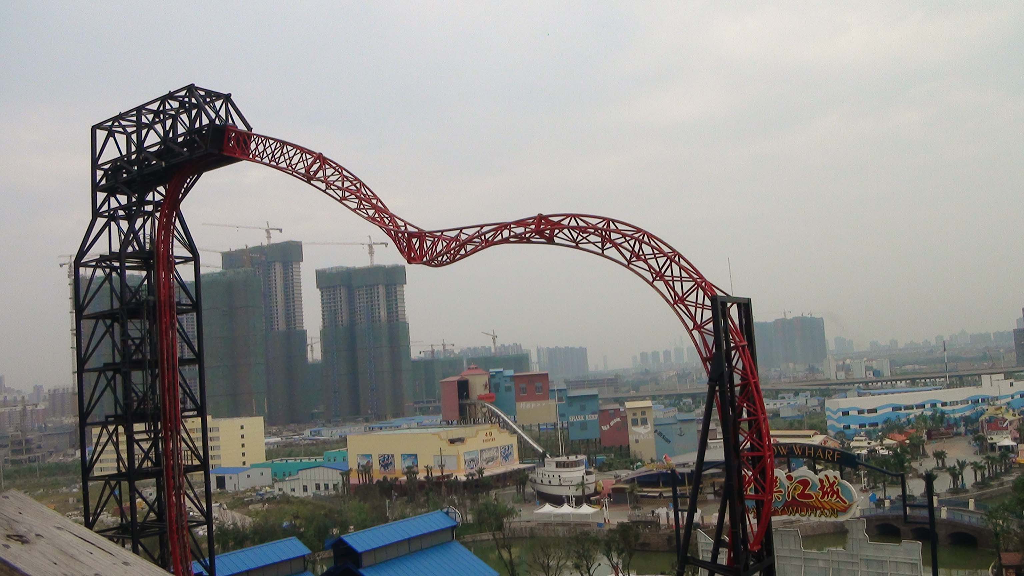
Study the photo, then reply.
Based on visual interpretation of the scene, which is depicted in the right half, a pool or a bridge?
bridge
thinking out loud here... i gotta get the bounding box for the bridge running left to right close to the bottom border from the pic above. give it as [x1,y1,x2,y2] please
[849,496,1018,551]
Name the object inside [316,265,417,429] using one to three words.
building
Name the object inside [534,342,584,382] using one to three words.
building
